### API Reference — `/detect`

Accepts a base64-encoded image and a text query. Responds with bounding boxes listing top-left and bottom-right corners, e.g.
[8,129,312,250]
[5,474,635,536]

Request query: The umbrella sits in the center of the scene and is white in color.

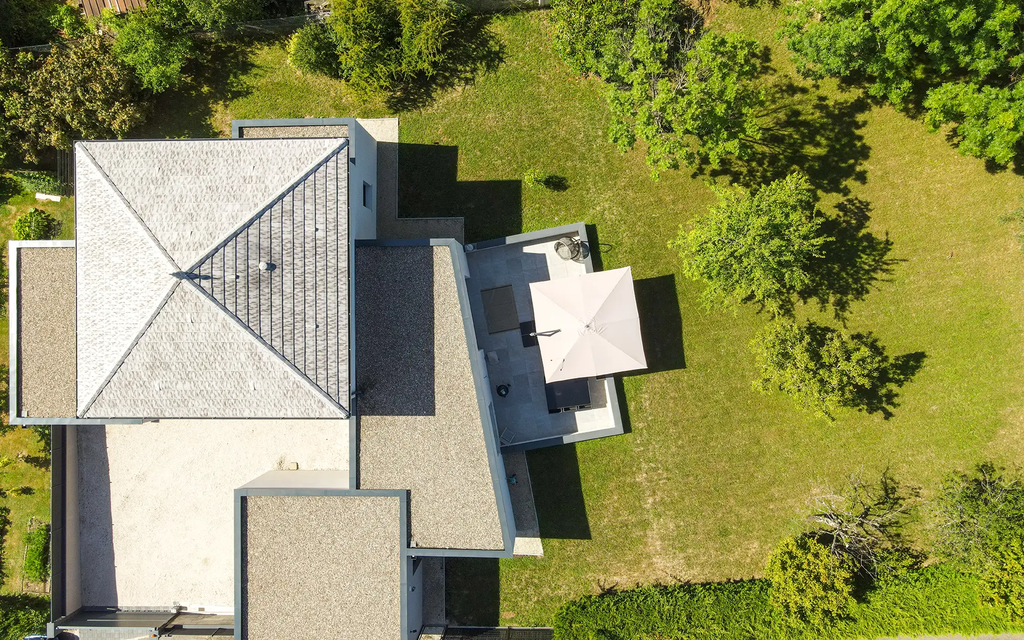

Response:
[518,266,647,383]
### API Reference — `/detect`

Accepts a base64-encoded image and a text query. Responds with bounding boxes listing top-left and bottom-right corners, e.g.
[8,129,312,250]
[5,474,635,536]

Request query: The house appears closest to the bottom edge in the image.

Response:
[9,118,516,640]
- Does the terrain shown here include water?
No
